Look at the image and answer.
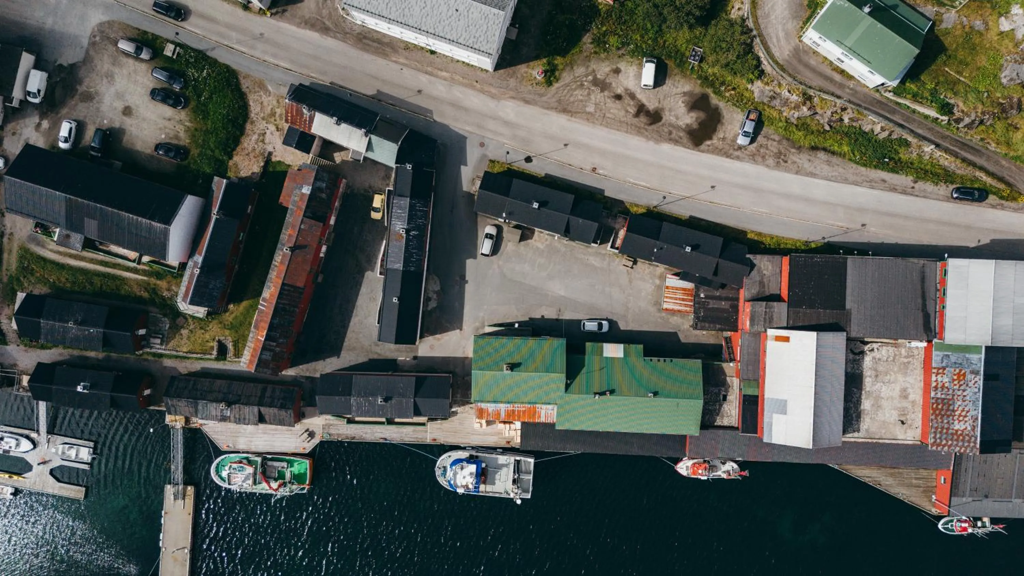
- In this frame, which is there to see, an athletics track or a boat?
boat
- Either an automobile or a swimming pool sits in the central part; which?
automobile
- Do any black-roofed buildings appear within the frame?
Yes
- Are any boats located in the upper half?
No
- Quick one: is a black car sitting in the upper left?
Yes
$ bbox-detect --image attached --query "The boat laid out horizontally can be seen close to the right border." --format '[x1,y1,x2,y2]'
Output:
[935,516,1008,540]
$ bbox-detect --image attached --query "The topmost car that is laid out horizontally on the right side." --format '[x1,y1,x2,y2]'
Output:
[953,185,991,201]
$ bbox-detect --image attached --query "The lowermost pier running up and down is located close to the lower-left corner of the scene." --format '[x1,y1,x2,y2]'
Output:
[158,483,196,576]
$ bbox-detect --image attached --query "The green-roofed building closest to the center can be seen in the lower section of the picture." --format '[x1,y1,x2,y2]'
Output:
[472,326,565,421]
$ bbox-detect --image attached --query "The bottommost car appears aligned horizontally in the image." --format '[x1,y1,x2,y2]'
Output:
[580,319,610,334]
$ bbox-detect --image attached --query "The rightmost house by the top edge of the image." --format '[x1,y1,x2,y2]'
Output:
[806,0,932,91]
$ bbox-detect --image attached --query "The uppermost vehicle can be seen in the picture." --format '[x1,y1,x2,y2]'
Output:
[147,0,185,21]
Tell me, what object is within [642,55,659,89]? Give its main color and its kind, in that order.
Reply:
white vehicle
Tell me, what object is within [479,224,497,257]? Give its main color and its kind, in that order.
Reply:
white car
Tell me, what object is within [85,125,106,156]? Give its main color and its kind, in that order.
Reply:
black car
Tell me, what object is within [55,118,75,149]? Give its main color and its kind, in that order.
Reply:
white car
